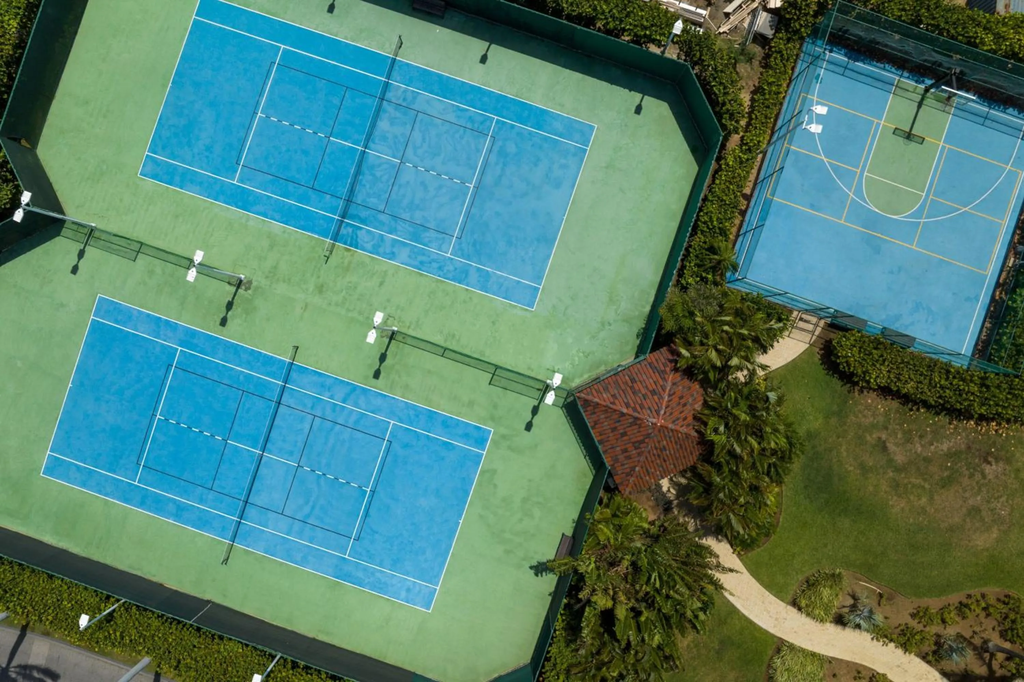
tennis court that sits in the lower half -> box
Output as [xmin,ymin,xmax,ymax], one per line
[0,220,598,682]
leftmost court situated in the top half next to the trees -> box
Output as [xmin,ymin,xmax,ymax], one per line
[37,0,706,389]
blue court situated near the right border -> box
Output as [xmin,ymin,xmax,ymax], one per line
[725,34,1024,367]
